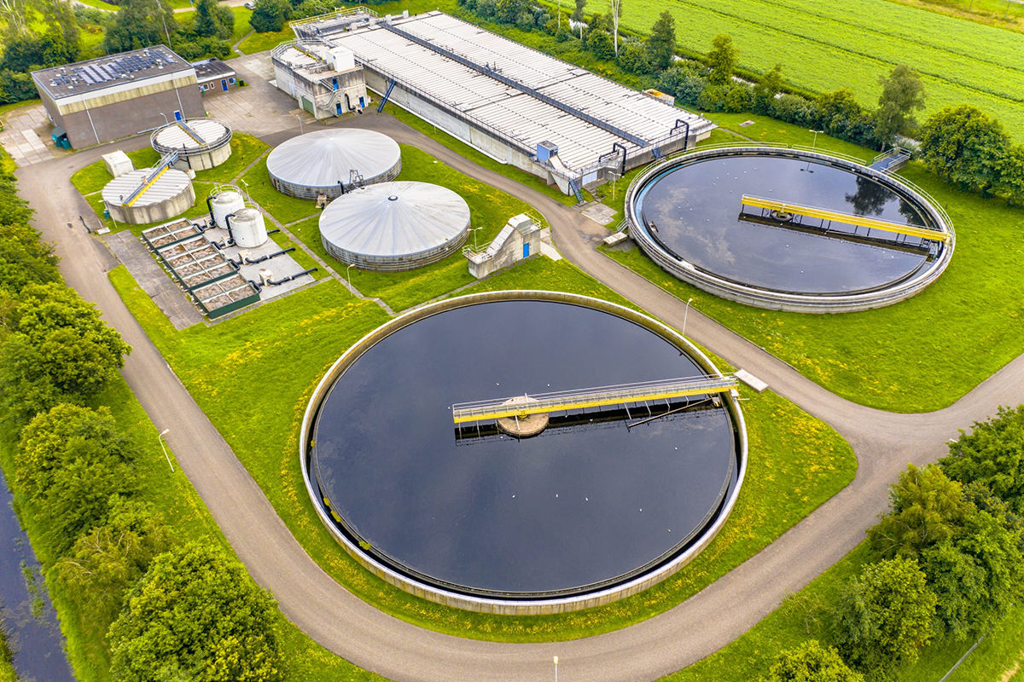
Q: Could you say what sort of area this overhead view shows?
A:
industrial area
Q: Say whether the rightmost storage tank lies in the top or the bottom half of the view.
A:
top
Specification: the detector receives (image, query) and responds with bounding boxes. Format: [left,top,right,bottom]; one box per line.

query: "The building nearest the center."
[465,212,541,278]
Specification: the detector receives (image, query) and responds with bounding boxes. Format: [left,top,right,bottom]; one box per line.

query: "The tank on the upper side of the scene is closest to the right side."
[618,140,959,318]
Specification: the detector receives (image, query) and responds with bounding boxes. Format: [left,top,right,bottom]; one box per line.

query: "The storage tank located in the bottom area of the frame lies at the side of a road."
[297,291,748,617]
